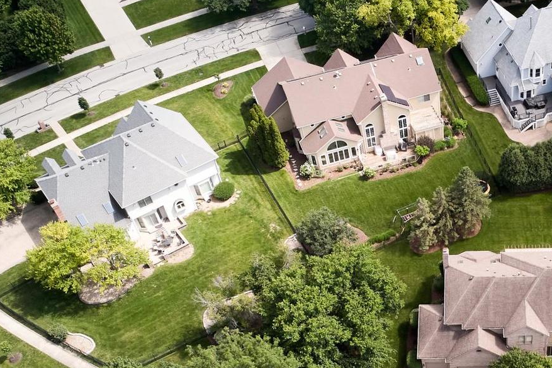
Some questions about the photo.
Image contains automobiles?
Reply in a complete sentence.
No, no automobile is visible in the view.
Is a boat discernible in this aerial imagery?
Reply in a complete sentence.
No, there is no boat in the image.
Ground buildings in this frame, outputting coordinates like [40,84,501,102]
[252,32,447,169]
[458,0,552,134]
[31,100,223,261]
[415,238,552,368]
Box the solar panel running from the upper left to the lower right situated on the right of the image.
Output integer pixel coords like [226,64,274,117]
[380,84,407,106]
